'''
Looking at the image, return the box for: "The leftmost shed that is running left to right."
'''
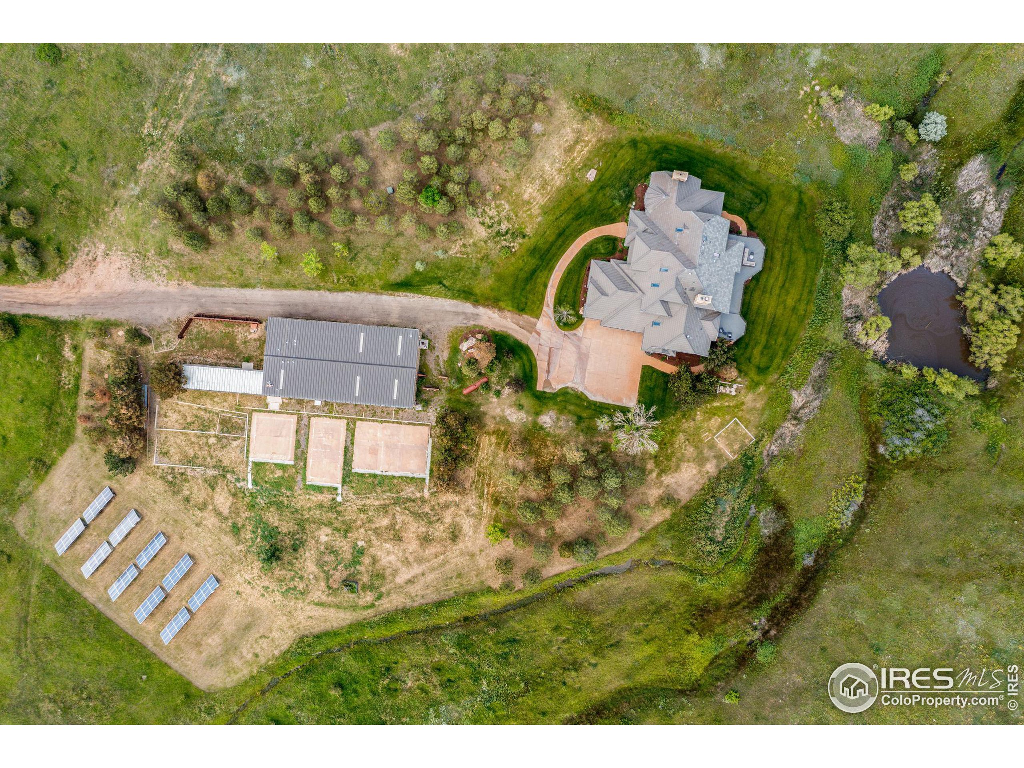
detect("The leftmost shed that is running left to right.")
[181,364,263,395]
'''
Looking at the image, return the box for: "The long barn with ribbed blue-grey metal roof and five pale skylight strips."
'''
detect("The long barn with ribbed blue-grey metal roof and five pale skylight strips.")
[261,317,420,408]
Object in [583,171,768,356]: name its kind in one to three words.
house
